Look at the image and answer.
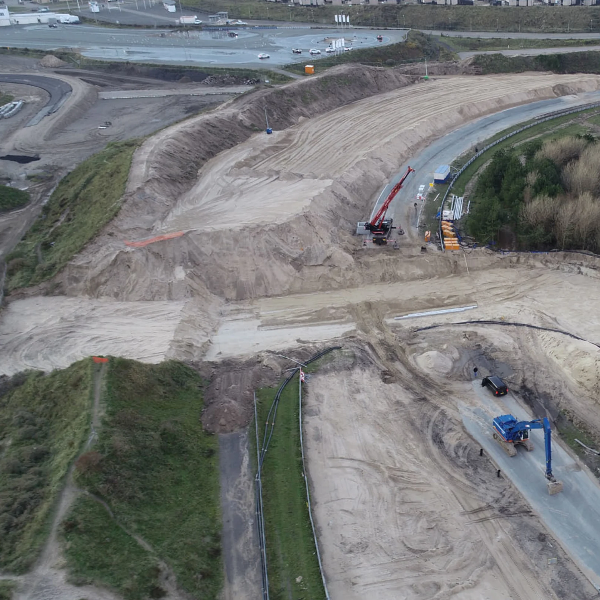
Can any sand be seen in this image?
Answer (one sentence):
Yes, some sand is visible.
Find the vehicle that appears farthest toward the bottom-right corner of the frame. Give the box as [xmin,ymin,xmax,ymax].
[492,411,567,498]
